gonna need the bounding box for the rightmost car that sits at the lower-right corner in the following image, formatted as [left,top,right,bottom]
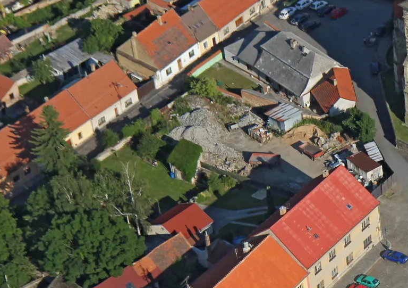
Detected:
[380,251,408,265]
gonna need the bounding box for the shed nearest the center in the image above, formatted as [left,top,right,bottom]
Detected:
[166,133,202,181]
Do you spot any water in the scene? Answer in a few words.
No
